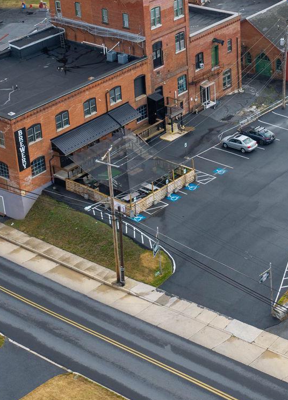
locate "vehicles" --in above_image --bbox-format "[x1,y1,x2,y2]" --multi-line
[221,133,259,151]
[239,122,276,142]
